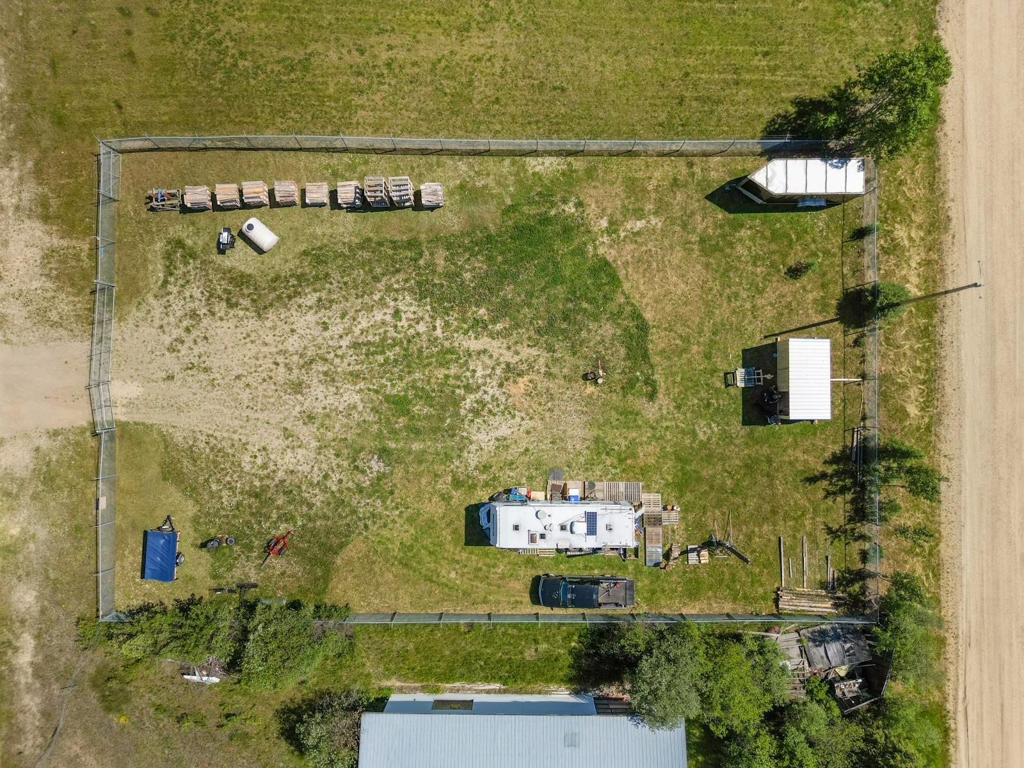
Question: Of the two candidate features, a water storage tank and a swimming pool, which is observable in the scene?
water storage tank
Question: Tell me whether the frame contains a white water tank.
Yes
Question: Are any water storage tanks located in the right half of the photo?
No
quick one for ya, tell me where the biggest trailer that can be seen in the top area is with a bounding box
[722,158,865,208]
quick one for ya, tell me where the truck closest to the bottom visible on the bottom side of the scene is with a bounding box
[537,573,634,612]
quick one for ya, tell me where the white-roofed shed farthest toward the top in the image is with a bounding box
[773,336,832,421]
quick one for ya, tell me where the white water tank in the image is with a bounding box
[242,218,279,252]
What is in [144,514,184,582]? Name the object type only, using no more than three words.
trailer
